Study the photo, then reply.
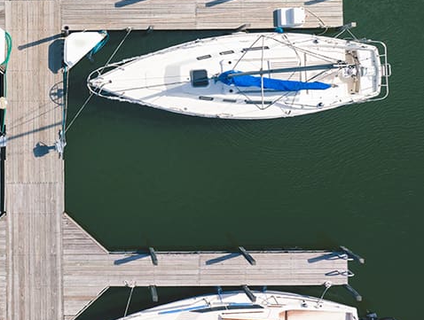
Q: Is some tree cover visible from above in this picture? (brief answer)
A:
No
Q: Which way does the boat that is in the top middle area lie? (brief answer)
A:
from left to right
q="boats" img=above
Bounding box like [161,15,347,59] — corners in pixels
[87,34,391,120]
[121,294,392,320]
